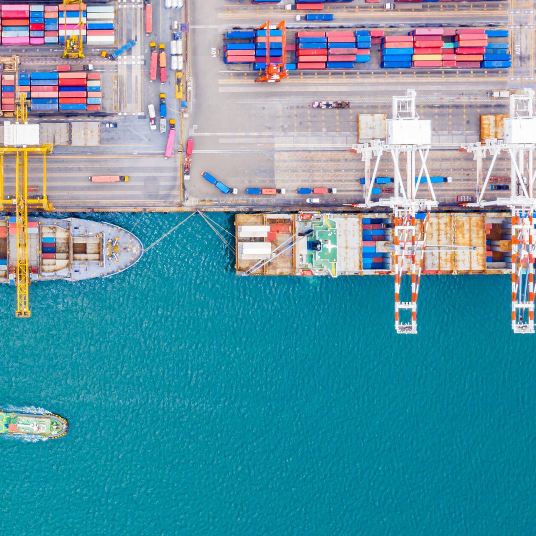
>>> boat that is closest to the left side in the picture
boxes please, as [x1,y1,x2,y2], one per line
[0,410,70,440]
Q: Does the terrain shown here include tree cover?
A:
No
